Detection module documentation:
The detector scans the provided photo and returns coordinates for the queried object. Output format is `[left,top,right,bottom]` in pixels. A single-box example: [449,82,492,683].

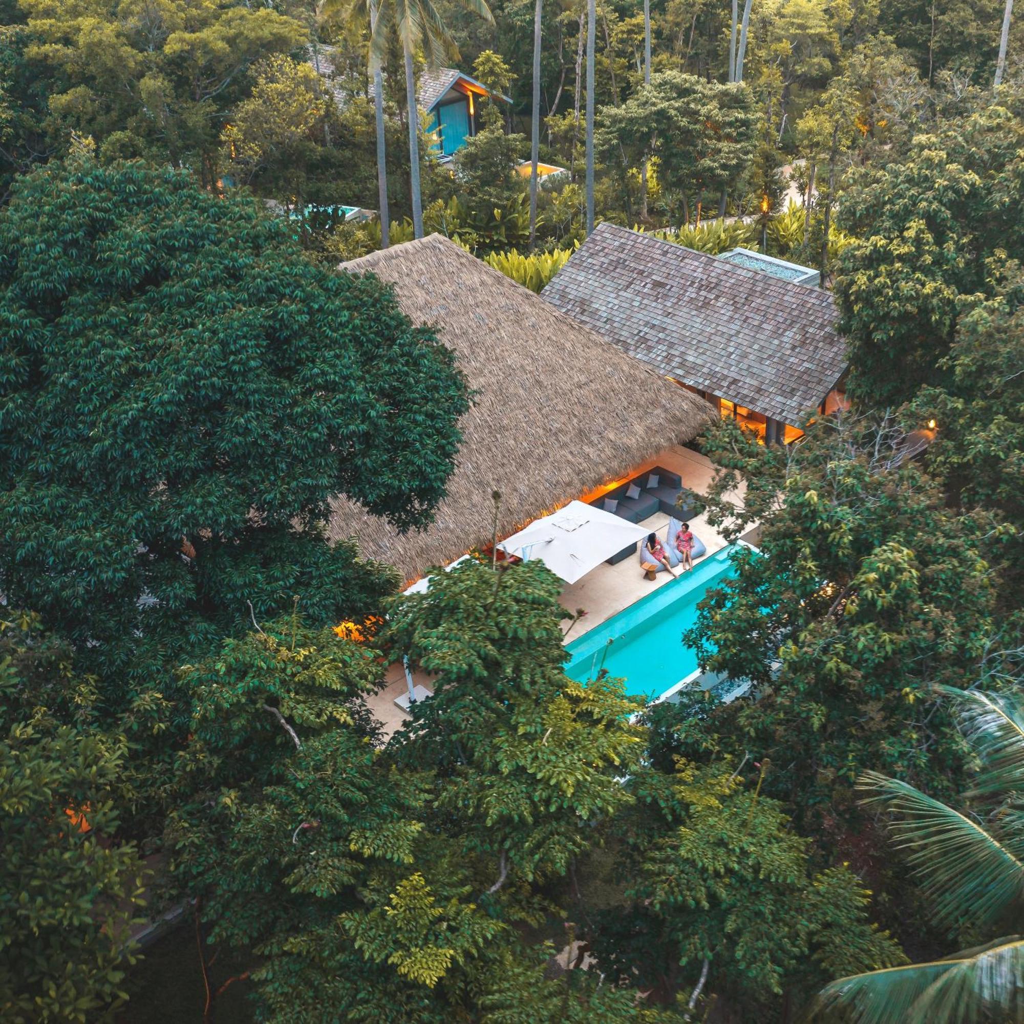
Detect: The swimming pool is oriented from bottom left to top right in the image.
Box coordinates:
[441,552,843,865]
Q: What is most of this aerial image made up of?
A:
trees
